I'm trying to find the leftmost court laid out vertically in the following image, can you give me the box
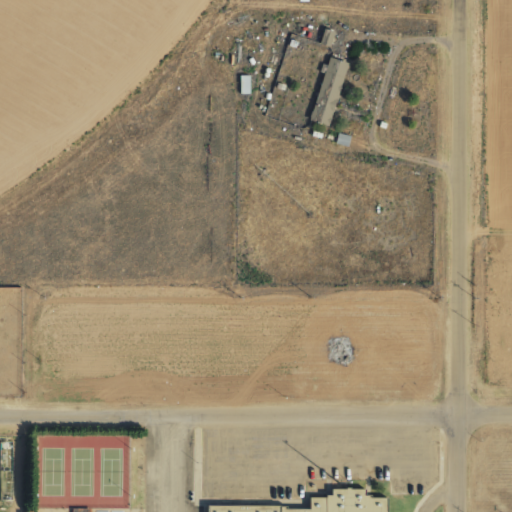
[38,436,68,508]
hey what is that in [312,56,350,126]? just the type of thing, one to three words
house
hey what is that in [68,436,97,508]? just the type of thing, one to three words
tennis court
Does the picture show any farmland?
Yes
